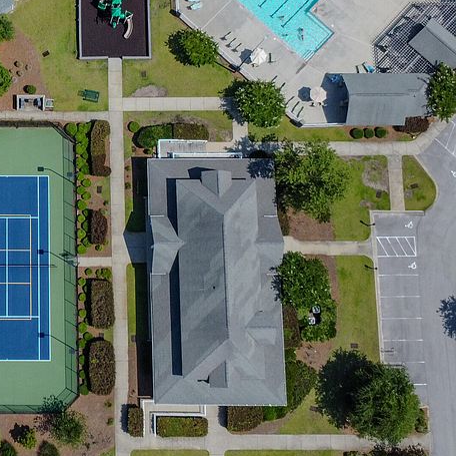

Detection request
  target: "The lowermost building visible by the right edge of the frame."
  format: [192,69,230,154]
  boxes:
[333,74,456,127]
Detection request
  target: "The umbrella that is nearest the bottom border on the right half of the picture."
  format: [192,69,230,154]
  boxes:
[308,85,327,104]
